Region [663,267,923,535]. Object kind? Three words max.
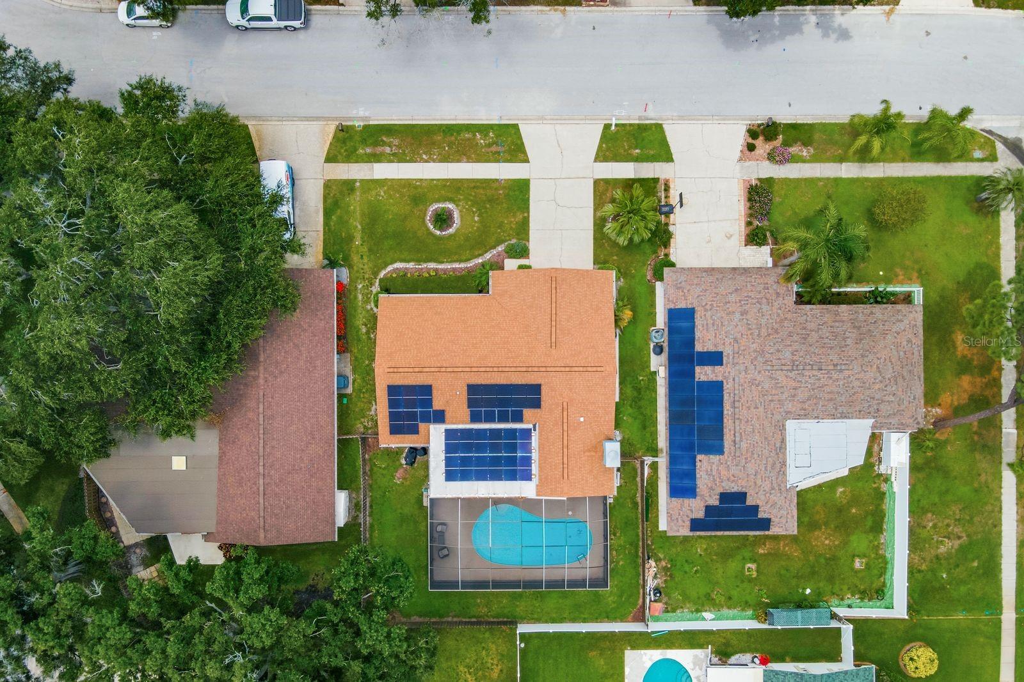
house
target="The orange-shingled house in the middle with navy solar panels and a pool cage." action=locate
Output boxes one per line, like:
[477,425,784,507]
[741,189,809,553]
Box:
[374,257,618,500]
